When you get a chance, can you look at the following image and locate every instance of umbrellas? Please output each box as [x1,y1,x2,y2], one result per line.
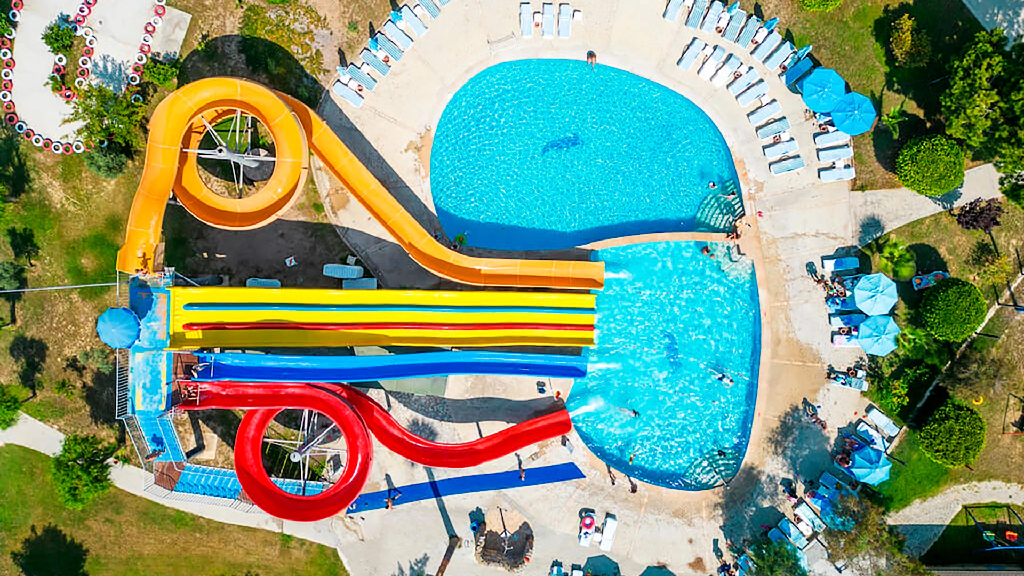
[722,1,740,20]
[853,314,895,354]
[798,70,843,114]
[369,37,383,53]
[761,17,779,34]
[335,64,351,83]
[850,272,894,316]
[837,438,887,487]
[392,9,407,28]
[101,306,149,348]
[827,94,871,137]
[790,45,812,63]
